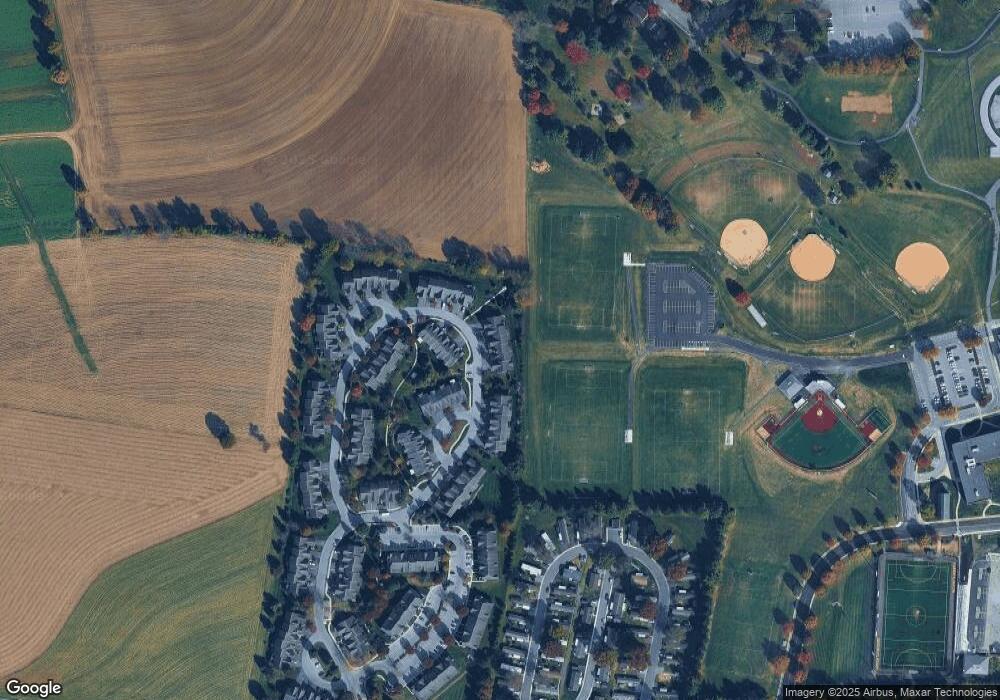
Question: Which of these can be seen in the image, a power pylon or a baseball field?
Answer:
baseball field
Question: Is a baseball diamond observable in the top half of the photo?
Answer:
Yes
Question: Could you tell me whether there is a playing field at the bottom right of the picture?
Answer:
Yes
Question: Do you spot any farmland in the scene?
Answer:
Yes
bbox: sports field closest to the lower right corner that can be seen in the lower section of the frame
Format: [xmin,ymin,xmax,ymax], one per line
[872,552,958,676]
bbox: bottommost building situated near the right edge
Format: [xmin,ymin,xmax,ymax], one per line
[965,655,991,676]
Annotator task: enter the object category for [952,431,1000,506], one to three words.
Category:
building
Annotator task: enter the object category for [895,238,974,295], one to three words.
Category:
baseball field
